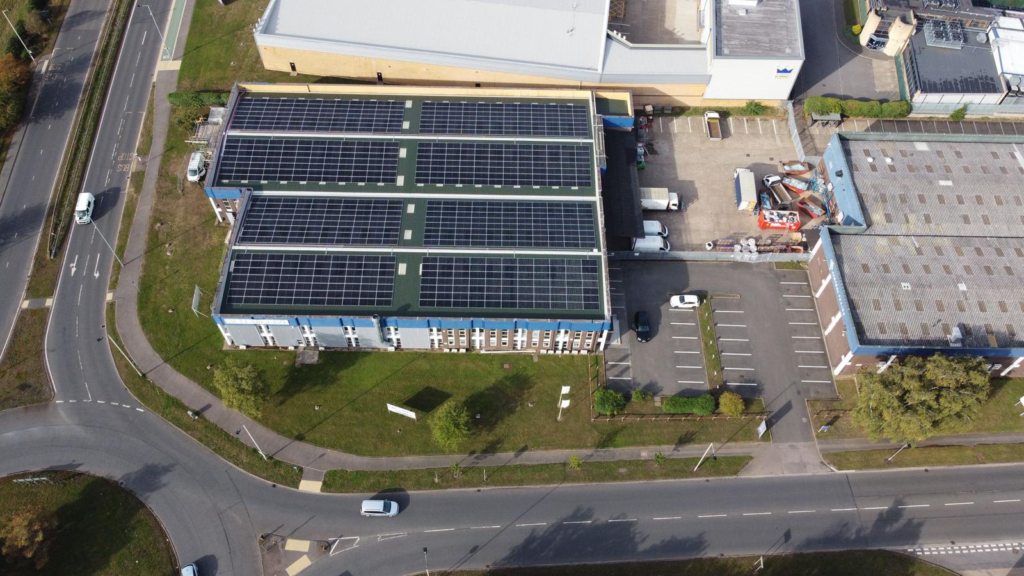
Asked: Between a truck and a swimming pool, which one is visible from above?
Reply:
truck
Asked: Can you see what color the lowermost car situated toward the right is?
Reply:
black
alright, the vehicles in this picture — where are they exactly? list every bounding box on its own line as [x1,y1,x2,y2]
[704,114,724,138]
[733,168,765,210]
[641,184,681,211]
[629,312,649,342]
[632,235,670,251]
[761,176,795,204]
[360,499,400,518]
[185,151,208,182]
[73,192,96,224]
[669,294,701,309]
[644,218,672,236]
